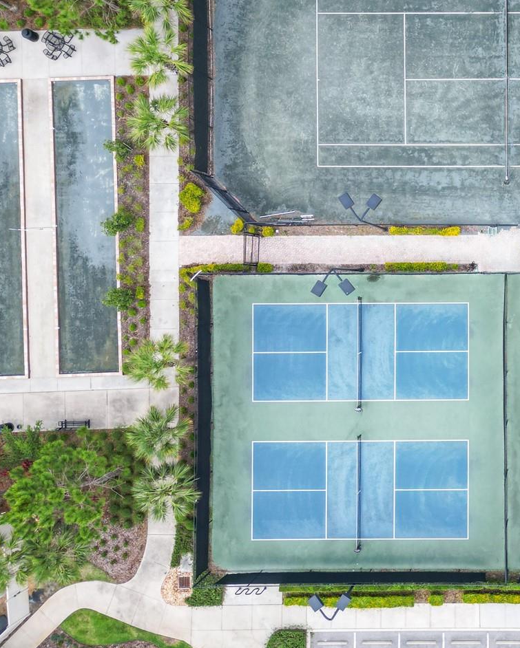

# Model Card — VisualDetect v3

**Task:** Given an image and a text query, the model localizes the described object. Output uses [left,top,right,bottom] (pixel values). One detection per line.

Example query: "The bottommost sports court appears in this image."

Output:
[251,441,469,541]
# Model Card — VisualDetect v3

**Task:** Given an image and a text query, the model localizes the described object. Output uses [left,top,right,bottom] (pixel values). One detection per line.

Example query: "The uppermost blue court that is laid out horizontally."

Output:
[251,302,469,402]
